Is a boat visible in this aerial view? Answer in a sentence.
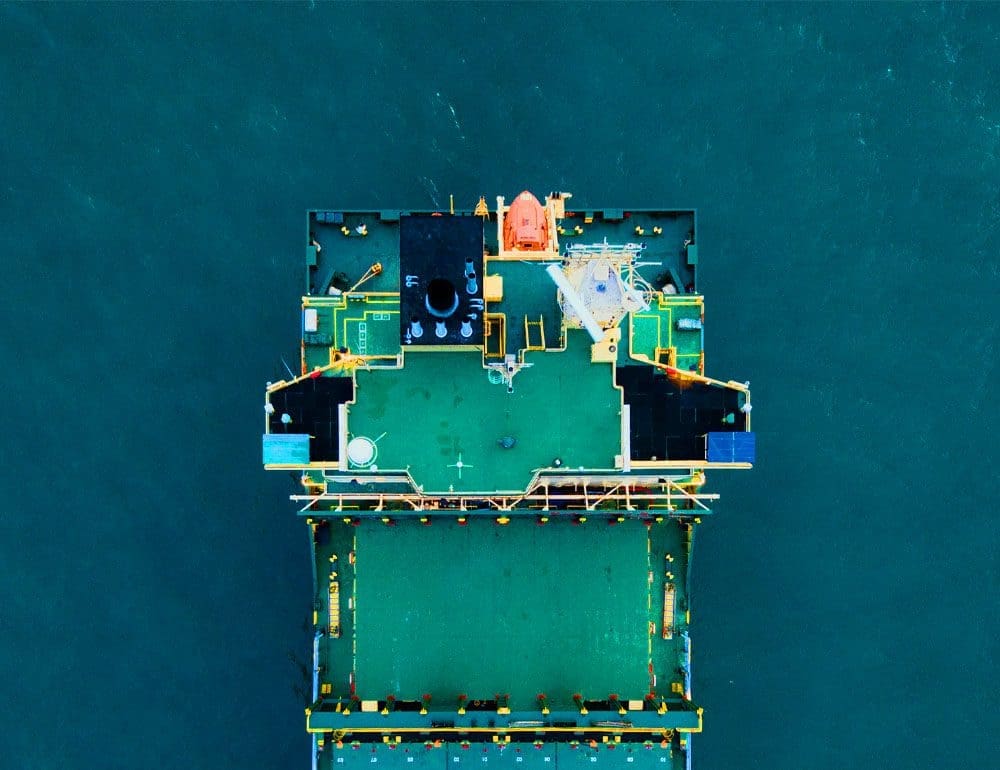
Yes, the image includes a boat.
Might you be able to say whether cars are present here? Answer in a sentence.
No, no car is visible in the view.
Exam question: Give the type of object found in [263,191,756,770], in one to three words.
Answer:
ship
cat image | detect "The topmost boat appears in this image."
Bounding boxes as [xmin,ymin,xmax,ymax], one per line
[505,190,548,254]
